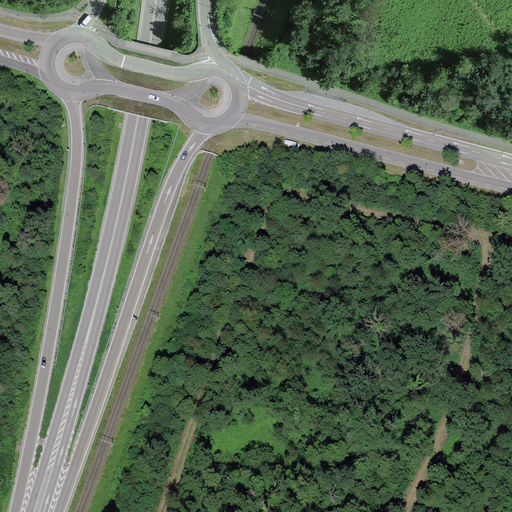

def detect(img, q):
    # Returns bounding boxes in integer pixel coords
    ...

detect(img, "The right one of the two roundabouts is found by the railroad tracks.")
[162,60,251,135]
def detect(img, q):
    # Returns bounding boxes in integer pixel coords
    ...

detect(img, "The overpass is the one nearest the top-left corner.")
[110,38,184,122]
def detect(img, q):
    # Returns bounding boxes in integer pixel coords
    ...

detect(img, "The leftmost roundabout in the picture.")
[38,26,118,102]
